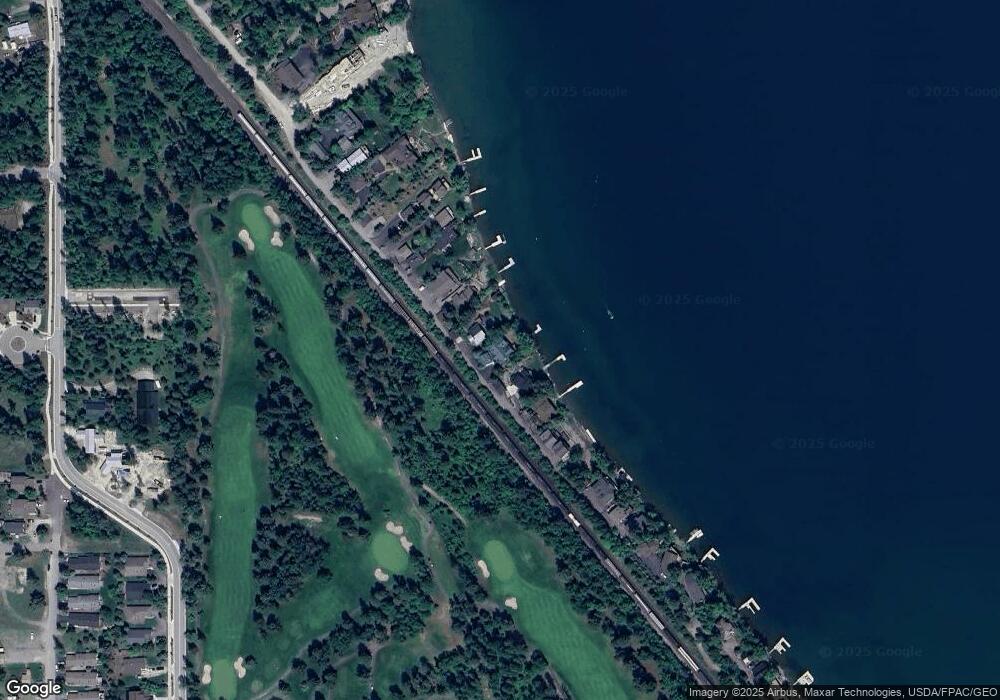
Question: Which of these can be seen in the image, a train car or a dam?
train car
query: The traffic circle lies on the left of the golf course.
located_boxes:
[0,325,36,362]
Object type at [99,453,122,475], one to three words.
barn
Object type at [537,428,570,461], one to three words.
house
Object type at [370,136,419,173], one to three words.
house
